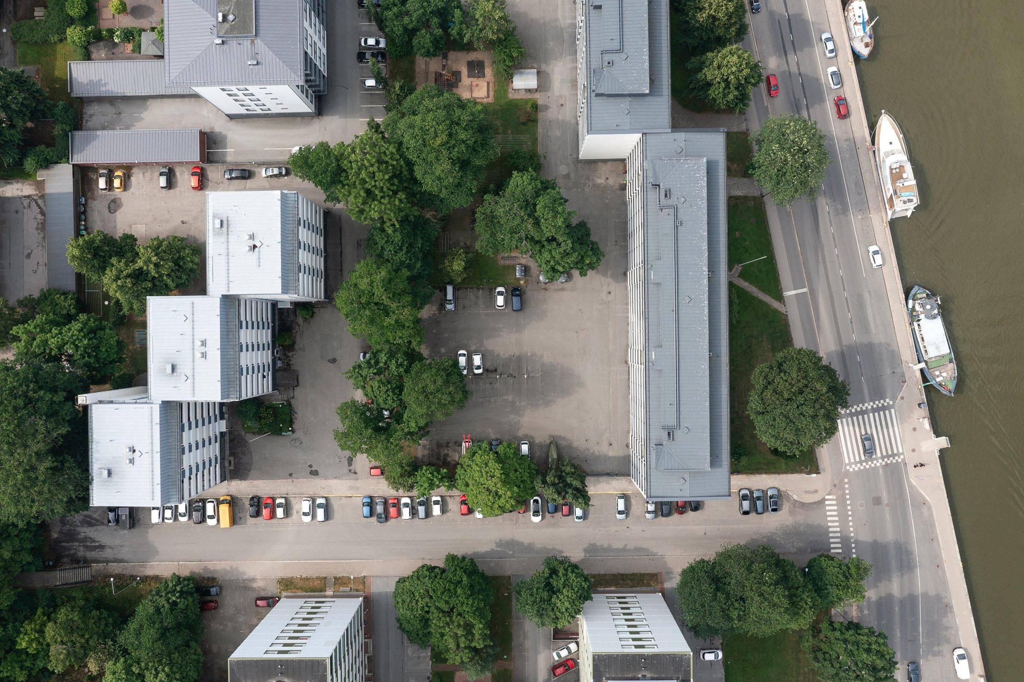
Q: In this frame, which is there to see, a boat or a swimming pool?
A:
boat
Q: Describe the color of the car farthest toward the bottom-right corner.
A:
white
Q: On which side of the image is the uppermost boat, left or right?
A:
right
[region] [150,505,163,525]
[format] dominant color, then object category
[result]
white vehicle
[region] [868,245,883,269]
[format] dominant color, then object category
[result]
white car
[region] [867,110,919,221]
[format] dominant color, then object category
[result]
white boat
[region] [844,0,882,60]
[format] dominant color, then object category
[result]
white boat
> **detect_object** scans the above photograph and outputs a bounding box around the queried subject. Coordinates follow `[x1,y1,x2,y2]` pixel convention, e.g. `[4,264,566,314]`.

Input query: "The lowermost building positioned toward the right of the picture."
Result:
[578,595,691,682]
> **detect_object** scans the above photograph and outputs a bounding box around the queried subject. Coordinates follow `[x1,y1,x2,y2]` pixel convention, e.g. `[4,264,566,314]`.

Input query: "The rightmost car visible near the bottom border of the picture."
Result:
[952,647,973,681]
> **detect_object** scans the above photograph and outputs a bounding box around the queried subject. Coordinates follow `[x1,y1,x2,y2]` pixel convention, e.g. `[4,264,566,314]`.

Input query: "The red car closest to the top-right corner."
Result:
[834,95,848,119]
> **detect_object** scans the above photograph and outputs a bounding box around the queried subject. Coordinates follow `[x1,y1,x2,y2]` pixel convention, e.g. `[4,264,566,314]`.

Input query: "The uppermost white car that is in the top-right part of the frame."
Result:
[820,32,834,58]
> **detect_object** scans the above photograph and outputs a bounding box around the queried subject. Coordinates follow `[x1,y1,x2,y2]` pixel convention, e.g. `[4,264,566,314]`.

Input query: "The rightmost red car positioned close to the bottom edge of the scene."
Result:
[551,658,575,677]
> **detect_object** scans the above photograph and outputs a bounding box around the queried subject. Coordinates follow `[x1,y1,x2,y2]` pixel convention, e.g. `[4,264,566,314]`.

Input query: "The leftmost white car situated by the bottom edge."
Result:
[553,642,579,660]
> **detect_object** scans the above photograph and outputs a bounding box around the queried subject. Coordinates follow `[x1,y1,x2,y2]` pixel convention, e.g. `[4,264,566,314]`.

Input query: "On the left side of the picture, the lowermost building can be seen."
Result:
[228,599,363,682]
